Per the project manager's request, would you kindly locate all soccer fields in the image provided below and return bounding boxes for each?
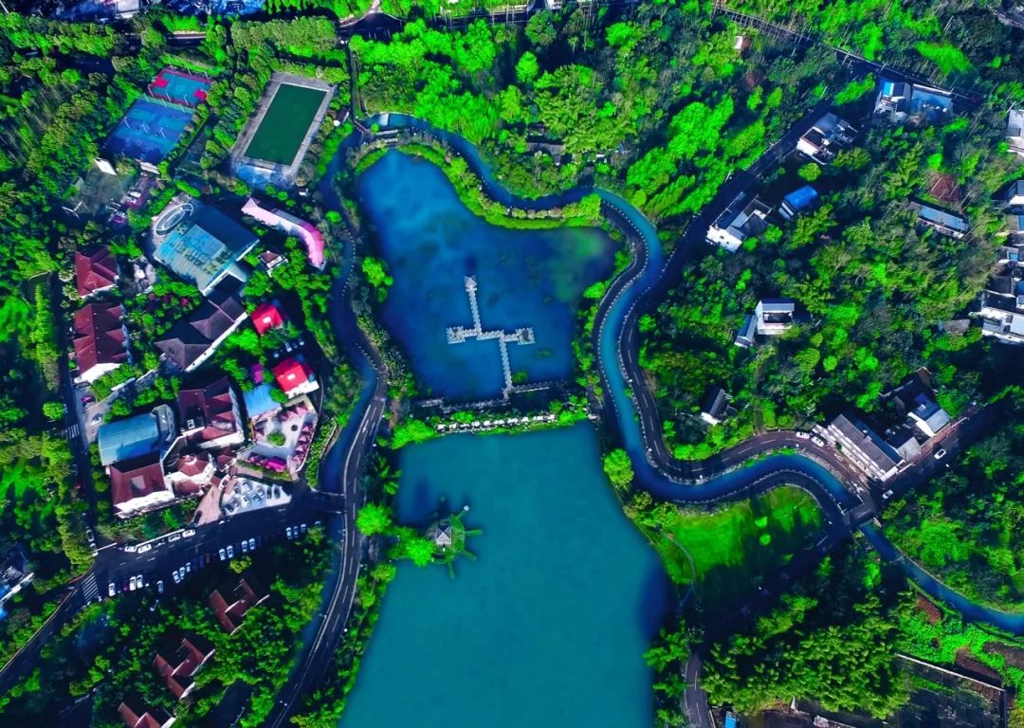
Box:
[232,72,335,177]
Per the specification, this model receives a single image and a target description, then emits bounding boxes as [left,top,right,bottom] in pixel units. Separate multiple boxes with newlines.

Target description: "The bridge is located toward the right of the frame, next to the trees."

[829,494,884,538]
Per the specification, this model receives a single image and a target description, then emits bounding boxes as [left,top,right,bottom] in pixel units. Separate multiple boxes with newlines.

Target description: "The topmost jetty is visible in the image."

[447,290,535,390]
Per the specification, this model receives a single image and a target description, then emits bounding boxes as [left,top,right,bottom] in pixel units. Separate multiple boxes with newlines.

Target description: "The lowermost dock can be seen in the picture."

[441,499,481,577]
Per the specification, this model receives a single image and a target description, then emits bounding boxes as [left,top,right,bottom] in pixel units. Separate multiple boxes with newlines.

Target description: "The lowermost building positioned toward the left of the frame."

[118,693,179,728]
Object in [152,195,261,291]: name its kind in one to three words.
building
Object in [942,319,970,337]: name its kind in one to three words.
house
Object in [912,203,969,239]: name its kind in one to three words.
shed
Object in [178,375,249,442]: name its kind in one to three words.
building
